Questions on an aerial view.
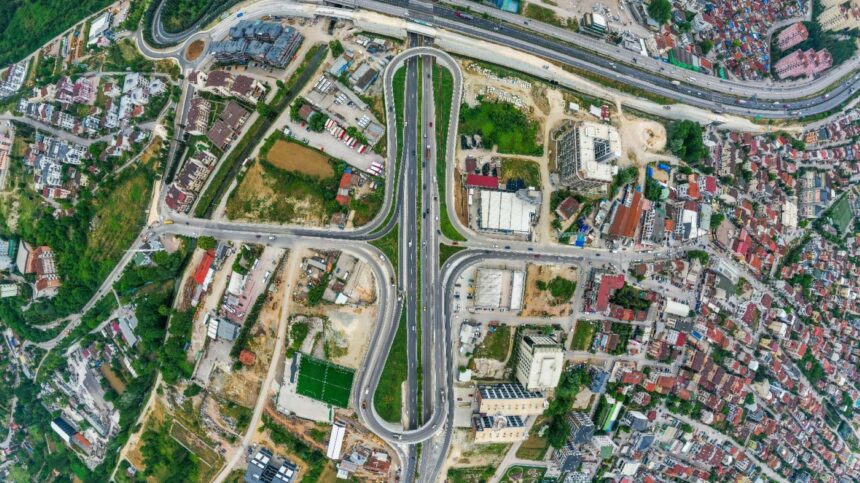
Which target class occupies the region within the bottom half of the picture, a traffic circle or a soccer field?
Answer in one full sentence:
You can see a soccer field within the bottom half of the picture.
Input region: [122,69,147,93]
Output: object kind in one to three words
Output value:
house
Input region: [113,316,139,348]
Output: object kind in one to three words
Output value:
shed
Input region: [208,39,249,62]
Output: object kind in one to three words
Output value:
building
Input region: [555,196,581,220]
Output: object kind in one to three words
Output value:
house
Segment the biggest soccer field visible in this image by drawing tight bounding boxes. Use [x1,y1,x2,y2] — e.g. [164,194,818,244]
[276,352,357,423]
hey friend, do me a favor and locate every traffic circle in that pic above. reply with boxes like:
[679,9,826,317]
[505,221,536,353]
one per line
[178,31,211,68]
